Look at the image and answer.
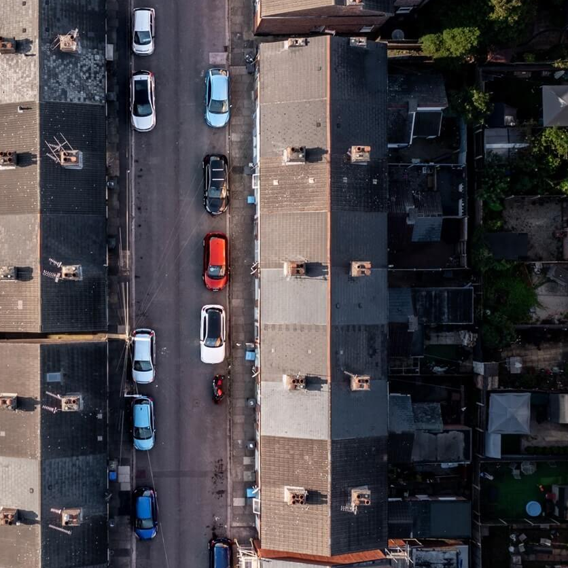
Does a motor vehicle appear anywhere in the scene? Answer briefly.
Yes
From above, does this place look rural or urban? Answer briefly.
urban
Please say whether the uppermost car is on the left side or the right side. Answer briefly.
left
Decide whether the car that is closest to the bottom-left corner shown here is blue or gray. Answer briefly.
blue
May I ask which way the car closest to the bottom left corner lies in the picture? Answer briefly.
from top to bottom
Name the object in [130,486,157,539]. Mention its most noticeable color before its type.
blue car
